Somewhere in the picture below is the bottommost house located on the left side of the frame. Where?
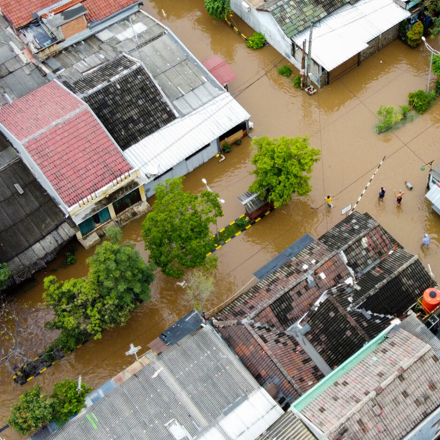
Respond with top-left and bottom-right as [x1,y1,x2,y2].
[31,309,284,440]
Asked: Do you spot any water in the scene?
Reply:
Yes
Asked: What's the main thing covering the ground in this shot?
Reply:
buildings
